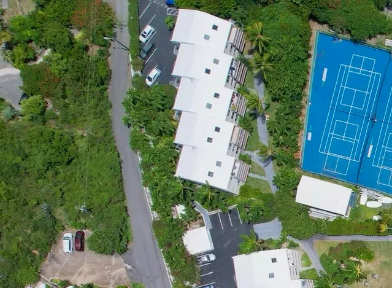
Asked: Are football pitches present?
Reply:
No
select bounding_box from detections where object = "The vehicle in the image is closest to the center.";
[146,68,161,85]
